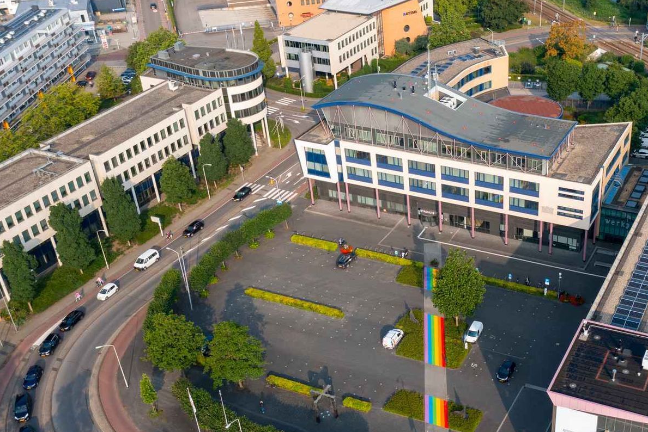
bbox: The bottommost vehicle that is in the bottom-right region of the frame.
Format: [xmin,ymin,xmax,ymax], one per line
[497,356,518,379]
